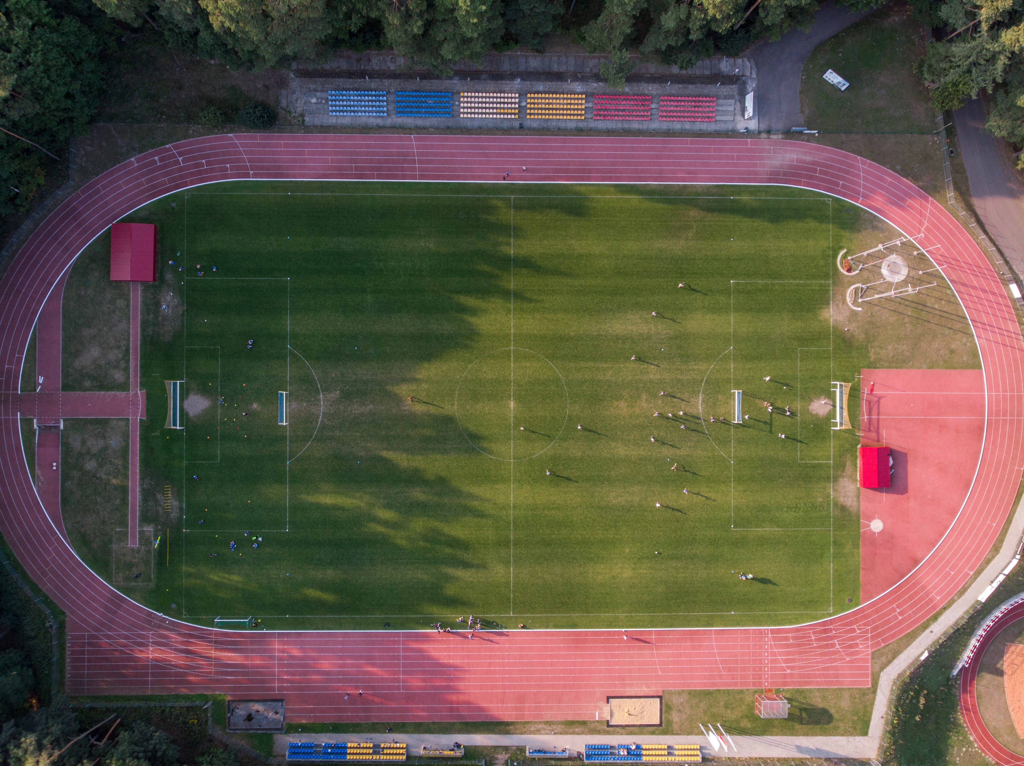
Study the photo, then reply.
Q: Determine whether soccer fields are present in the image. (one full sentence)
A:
Yes, the picture does show a soccer field.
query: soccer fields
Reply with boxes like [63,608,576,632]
[145,180,861,630]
